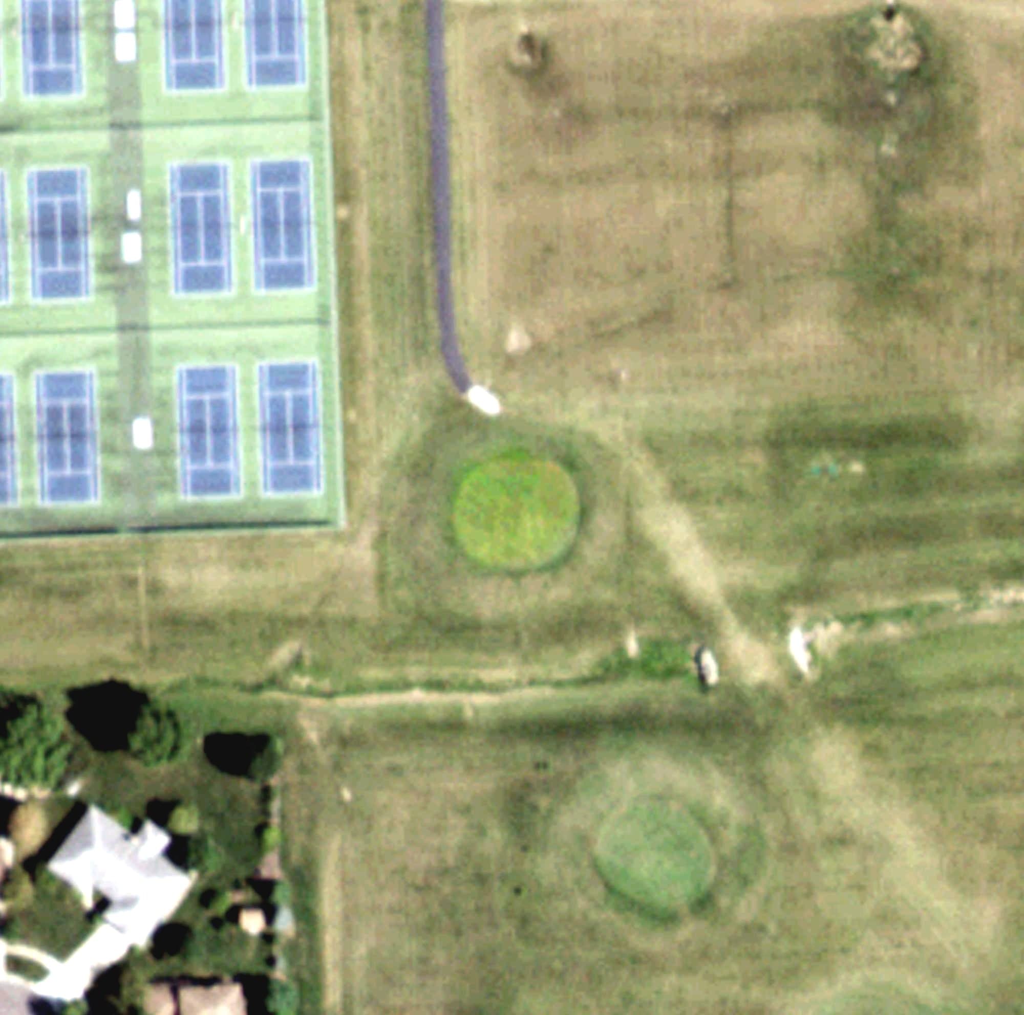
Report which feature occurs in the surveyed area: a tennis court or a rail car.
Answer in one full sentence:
Looking from above, you can make out a tennis court.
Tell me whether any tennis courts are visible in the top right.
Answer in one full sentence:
No, the scene shows no tennis court in the top right.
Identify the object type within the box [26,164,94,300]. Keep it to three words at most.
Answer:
tennis court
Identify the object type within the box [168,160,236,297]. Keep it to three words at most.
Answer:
tennis court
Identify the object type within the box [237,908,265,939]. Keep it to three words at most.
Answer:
gazebo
